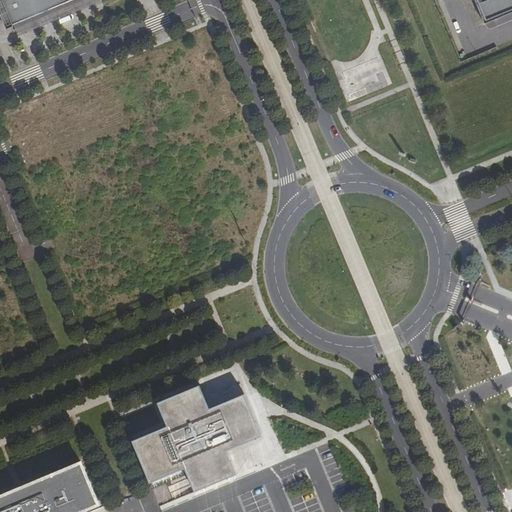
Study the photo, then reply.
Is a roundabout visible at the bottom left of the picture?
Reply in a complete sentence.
No, there's no roundabout to be seen at the bottom left of the picture.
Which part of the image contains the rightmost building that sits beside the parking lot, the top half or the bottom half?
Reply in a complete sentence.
The bottom half of the photo is where the rightmost building that sits beside the parking lot is.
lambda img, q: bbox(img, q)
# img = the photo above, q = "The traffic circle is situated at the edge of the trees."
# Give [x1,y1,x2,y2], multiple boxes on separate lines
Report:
[264,172,452,356]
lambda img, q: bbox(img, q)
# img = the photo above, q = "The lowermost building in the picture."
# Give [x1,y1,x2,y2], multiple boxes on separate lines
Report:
[0,462,100,512]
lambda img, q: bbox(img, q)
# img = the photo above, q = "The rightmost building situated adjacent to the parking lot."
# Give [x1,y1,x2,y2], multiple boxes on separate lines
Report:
[130,386,260,508]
